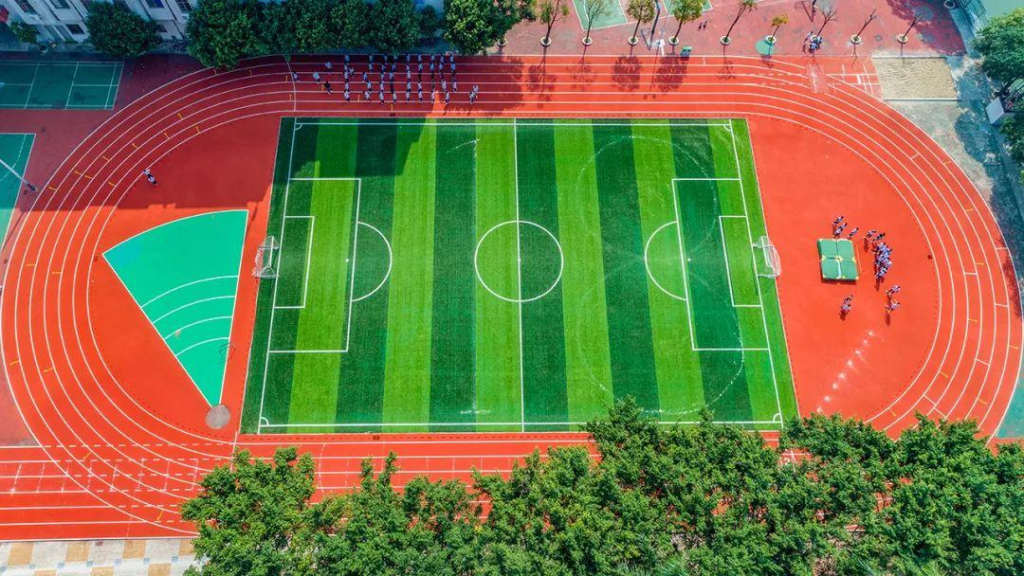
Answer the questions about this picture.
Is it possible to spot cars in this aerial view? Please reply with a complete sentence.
No, I can see no car in this picture.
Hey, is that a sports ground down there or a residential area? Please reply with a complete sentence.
This image shows a sports ground.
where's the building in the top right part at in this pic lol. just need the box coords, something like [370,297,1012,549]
[986,95,1018,124]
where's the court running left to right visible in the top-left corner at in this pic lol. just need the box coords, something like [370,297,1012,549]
[0,61,125,109]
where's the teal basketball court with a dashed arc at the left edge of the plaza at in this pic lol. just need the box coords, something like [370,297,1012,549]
[0,133,36,256]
